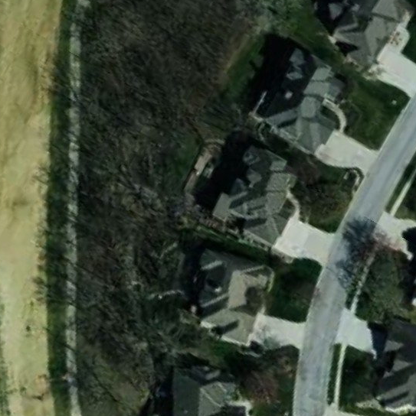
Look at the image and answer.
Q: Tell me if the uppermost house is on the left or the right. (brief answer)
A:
right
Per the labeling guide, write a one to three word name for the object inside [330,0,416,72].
house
